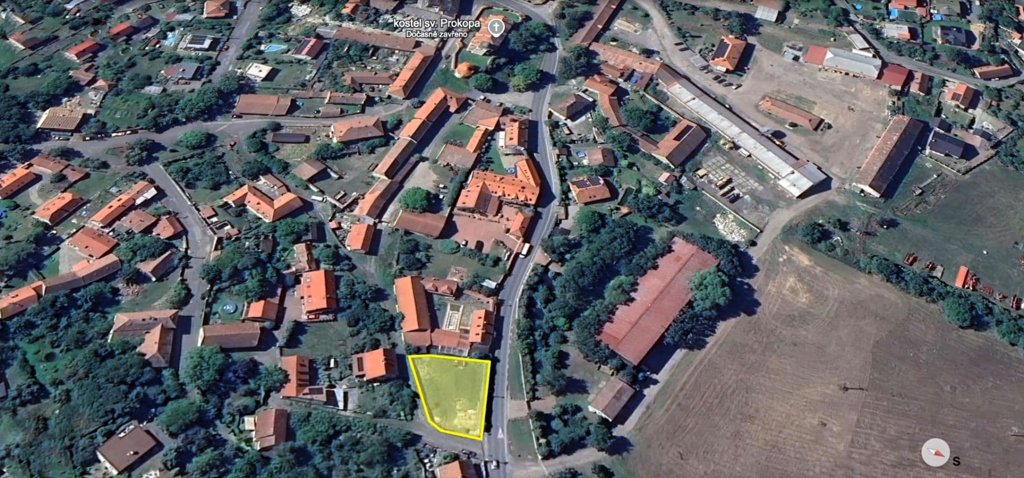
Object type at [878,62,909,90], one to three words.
building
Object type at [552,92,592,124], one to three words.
house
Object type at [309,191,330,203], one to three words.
vehicle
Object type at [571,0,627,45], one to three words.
barn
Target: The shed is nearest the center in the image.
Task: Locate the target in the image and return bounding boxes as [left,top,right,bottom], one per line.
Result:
[509,213,532,240]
